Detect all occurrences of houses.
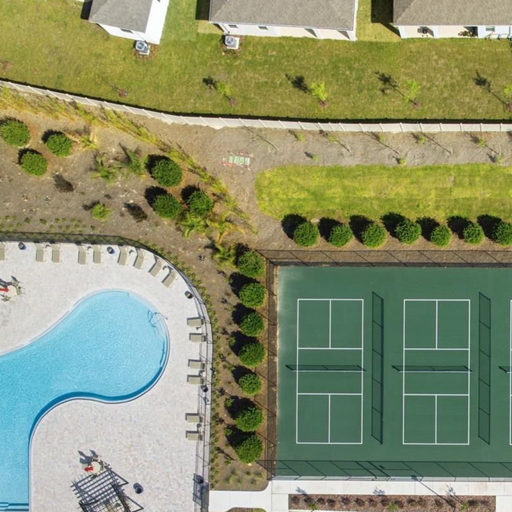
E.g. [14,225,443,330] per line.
[81,0,168,44]
[392,0,512,38]
[207,0,358,40]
